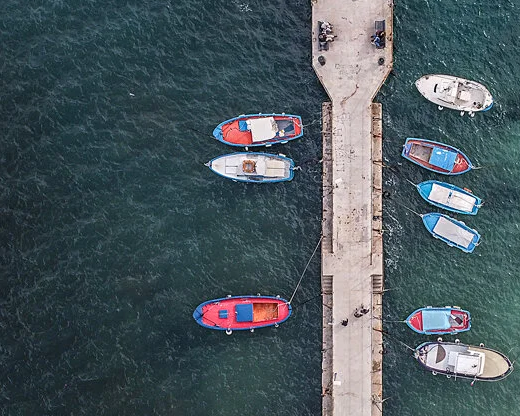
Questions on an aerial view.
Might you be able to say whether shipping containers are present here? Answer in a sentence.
No, this view has no shipping container in it.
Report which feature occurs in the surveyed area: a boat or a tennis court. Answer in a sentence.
Visible in the photo is a boat.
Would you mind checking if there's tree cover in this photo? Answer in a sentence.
No, no tree cover is visible.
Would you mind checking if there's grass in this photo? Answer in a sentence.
No, grass can't be seen anywhere here.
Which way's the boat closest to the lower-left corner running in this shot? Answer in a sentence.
In this picture, the boat closest to the lower-left corner is oriented from side to side.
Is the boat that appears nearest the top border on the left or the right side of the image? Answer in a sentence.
You can find the boat that appears nearest the top border on the right side of the picture.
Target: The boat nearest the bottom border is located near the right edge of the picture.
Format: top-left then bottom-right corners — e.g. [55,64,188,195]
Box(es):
[415,337,513,386]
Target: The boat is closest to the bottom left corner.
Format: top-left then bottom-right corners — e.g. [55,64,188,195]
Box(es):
[192,293,292,335]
